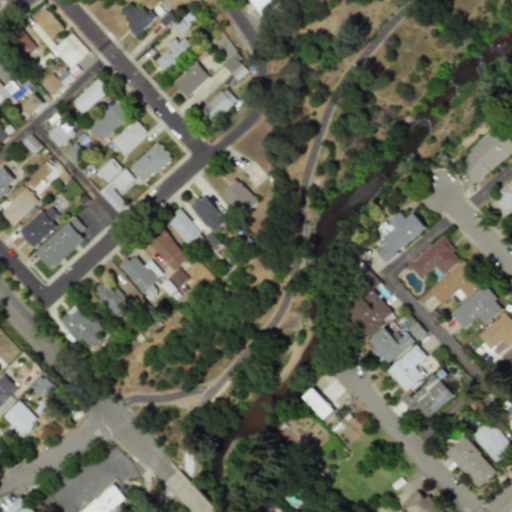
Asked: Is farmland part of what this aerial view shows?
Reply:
No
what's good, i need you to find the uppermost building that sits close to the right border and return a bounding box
[464,138,510,182]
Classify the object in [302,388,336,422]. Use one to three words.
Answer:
house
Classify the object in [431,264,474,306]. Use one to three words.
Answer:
house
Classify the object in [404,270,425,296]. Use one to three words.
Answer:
swimming pool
